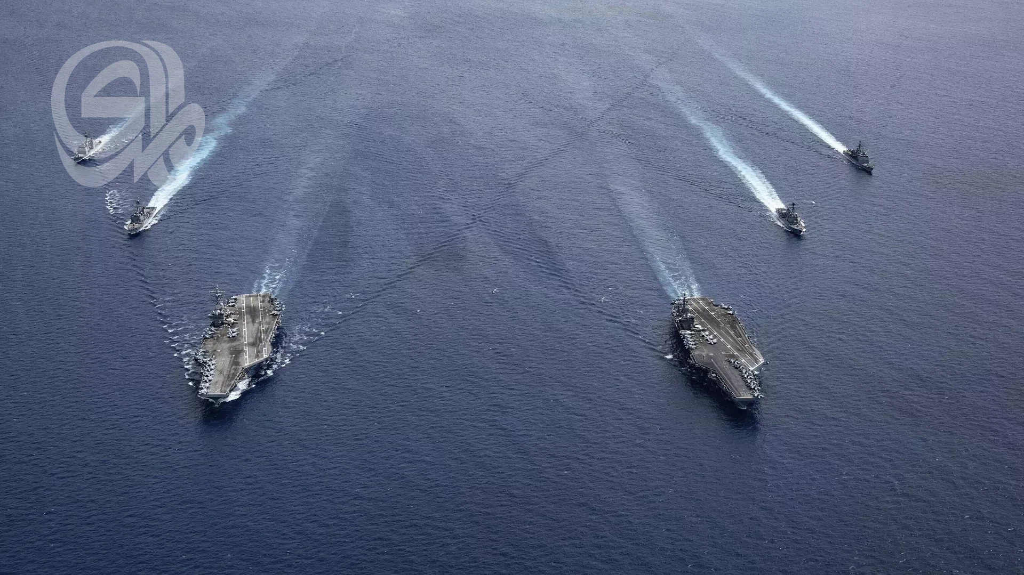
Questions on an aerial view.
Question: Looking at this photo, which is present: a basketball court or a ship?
ship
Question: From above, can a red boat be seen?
No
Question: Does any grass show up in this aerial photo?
No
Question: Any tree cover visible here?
No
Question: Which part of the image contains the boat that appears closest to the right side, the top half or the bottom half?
top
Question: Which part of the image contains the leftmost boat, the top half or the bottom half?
top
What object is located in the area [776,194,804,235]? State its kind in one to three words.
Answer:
ship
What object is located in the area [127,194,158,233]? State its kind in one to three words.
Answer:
ship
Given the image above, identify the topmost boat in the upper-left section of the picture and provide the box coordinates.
[73,130,101,164]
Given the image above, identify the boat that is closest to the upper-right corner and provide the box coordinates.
[842,140,874,172]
